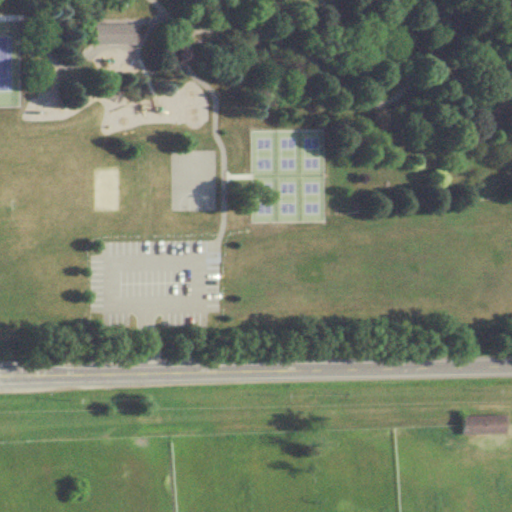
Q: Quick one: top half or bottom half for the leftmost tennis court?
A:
top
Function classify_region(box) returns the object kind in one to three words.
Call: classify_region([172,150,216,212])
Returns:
basketball court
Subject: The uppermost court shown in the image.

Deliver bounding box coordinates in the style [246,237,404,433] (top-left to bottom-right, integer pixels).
[0,26,22,108]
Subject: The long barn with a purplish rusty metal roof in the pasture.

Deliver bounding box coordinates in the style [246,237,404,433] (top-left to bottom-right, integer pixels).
[466,415,508,435]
